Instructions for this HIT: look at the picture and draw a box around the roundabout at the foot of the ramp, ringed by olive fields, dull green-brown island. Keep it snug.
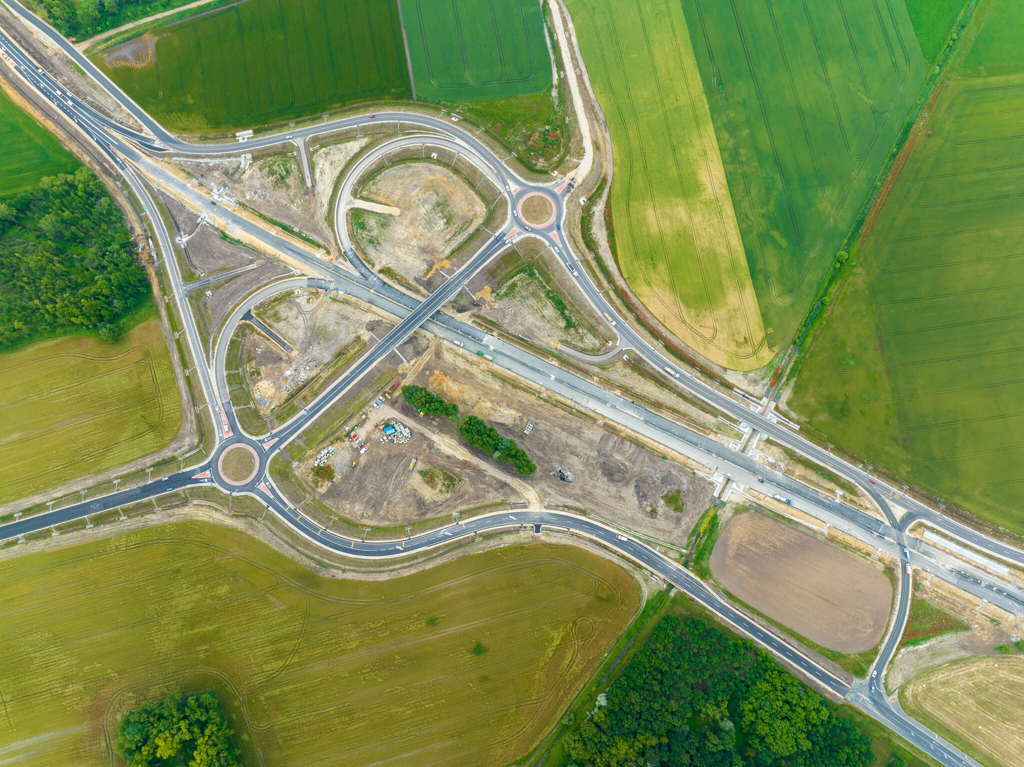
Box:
[181,393,305,510]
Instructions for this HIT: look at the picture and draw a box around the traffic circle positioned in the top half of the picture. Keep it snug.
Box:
[481,165,580,262]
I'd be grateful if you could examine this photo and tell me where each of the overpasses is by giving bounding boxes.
[383,278,457,354]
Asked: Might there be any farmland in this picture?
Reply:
Yes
